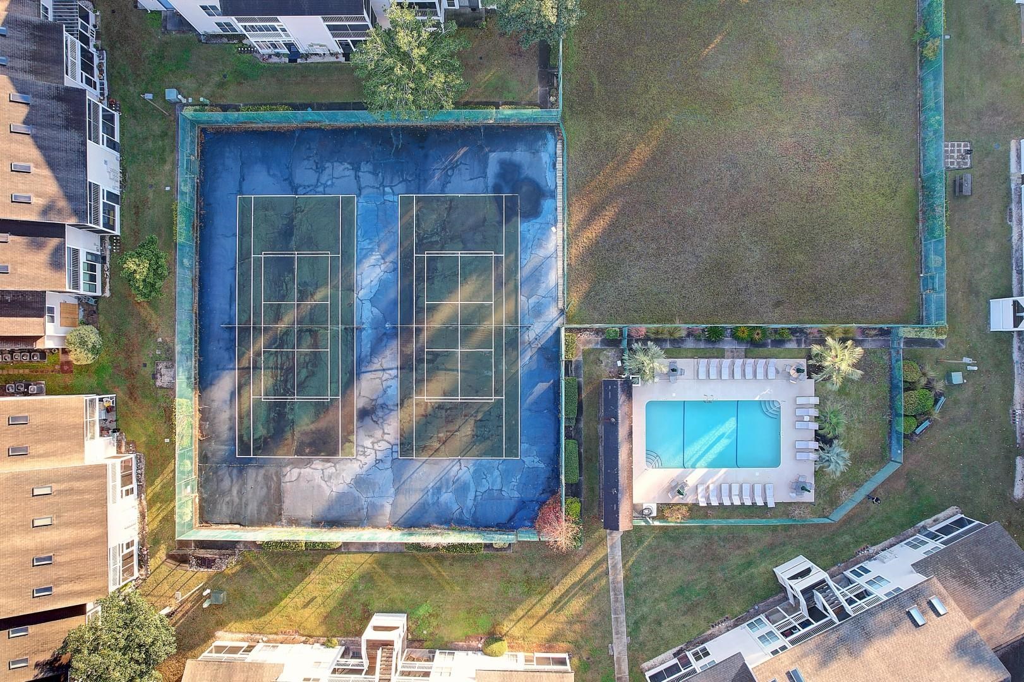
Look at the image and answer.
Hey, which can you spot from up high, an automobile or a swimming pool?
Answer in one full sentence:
The one in the frame is a swimming pool.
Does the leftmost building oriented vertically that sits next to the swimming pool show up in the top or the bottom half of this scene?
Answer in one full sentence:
The leftmost building oriented vertically that sits next to the swimming pool sits in the bottom half of the picture.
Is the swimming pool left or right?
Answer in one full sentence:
The swimming pool is on the right side of the image.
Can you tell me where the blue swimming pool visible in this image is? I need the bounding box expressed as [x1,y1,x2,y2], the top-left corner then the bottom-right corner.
[643,396,785,471]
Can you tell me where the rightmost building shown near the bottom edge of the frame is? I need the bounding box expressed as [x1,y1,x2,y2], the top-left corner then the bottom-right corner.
[645,513,1024,682]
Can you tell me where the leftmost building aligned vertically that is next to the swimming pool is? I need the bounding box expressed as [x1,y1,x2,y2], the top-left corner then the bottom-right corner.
[601,379,633,533]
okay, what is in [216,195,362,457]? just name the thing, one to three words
tennis court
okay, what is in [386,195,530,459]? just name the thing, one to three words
tennis court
